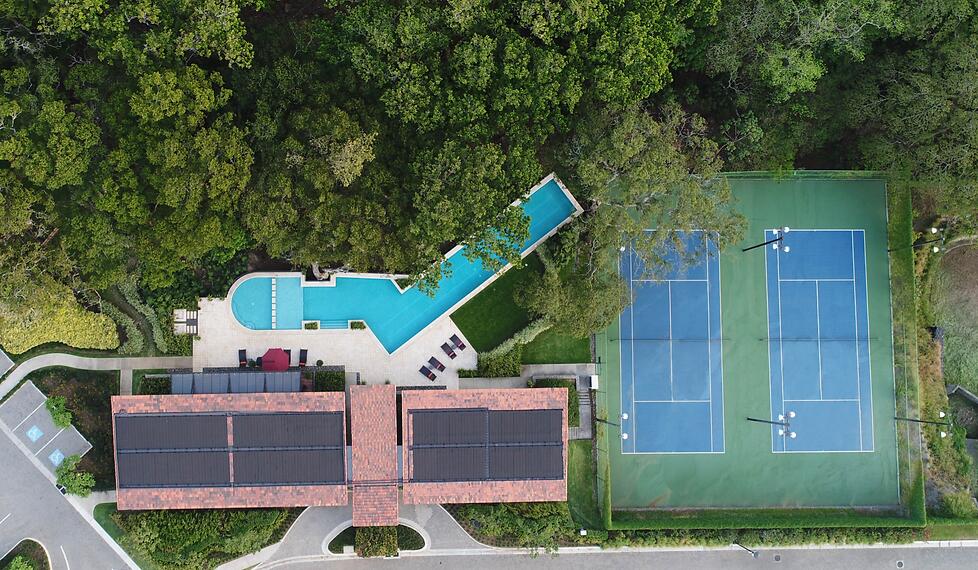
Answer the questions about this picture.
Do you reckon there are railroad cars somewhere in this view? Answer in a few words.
No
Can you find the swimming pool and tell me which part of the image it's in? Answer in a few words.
center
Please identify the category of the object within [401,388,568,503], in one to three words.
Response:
building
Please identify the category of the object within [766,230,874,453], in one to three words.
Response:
tennis court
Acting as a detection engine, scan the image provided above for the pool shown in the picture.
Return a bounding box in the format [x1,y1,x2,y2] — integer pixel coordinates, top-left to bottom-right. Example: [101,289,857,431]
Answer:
[226,173,583,360]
